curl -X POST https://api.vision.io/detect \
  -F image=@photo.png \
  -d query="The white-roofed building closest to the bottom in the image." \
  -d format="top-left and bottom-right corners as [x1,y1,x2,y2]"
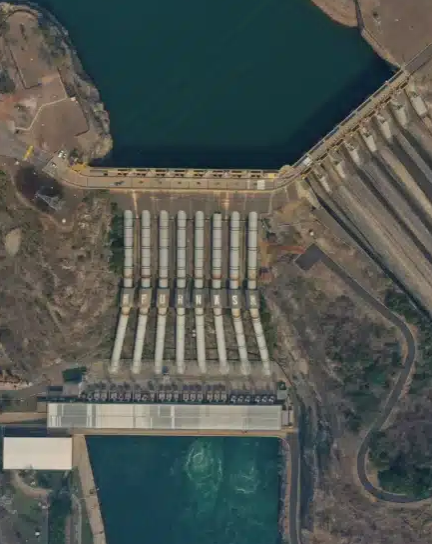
[3,435,74,470]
